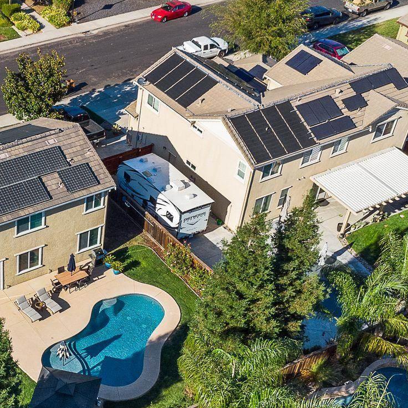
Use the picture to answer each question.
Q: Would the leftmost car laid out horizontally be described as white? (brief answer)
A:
No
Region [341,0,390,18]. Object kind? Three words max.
vehicle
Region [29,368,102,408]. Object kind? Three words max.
gazebo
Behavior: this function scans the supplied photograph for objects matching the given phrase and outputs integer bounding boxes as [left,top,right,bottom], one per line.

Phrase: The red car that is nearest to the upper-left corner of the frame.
[149,0,194,20]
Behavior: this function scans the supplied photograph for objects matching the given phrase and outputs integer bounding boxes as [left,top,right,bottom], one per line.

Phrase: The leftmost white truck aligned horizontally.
[176,34,235,59]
